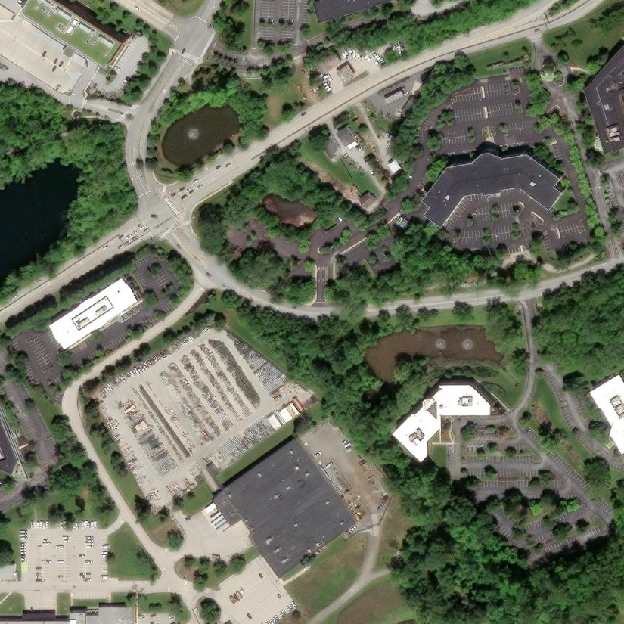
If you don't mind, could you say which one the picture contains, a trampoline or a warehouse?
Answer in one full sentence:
The one in the frame is a warehouse.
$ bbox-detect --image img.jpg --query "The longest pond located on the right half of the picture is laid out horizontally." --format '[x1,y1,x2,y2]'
[363,326,500,383]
